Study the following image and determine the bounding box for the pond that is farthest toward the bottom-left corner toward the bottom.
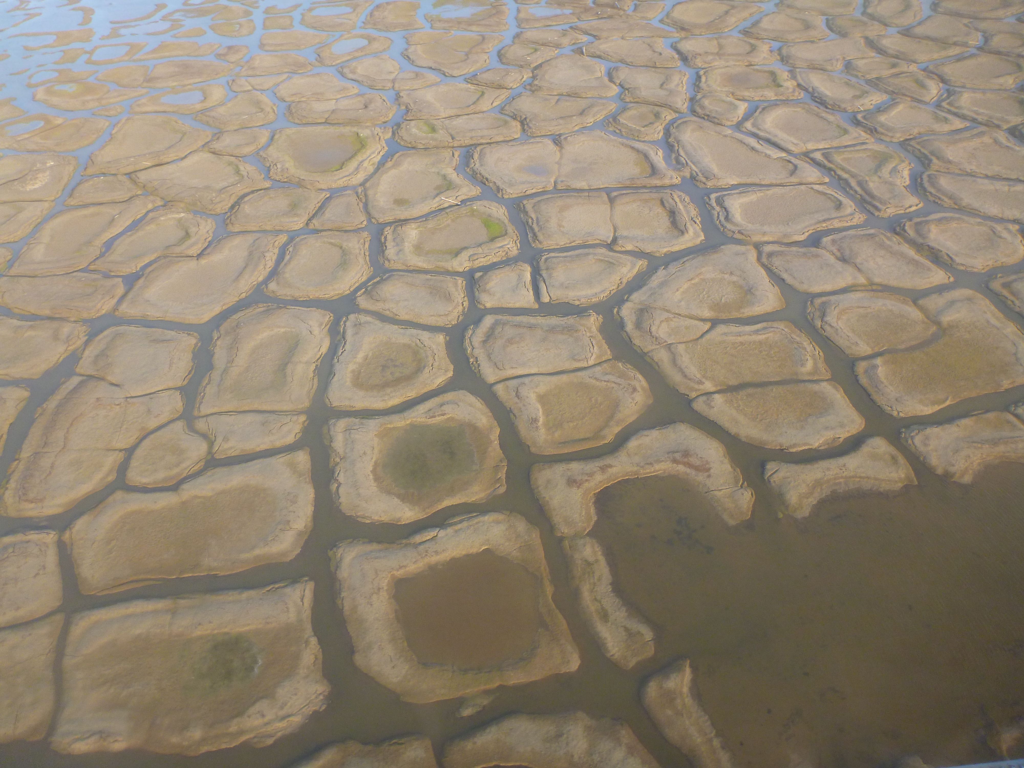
[402,556,549,668]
